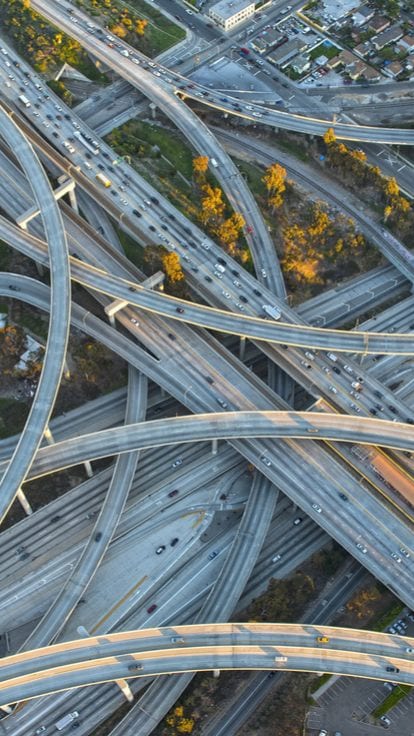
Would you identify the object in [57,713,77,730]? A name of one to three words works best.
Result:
vehicle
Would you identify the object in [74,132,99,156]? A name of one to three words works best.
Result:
truck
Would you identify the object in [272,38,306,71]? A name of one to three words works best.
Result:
building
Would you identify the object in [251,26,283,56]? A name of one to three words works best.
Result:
building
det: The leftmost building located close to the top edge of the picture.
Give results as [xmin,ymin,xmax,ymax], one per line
[208,0,245,31]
